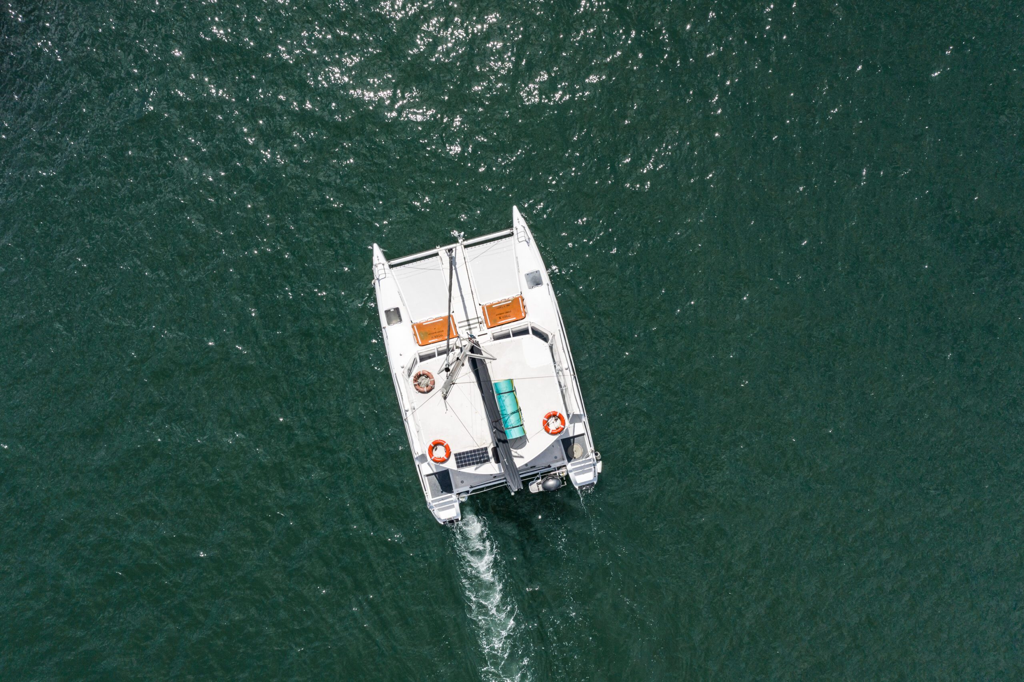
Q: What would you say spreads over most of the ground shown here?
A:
water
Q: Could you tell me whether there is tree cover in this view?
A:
No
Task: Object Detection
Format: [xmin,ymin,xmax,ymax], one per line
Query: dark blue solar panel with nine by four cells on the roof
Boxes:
[453,444,492,469]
